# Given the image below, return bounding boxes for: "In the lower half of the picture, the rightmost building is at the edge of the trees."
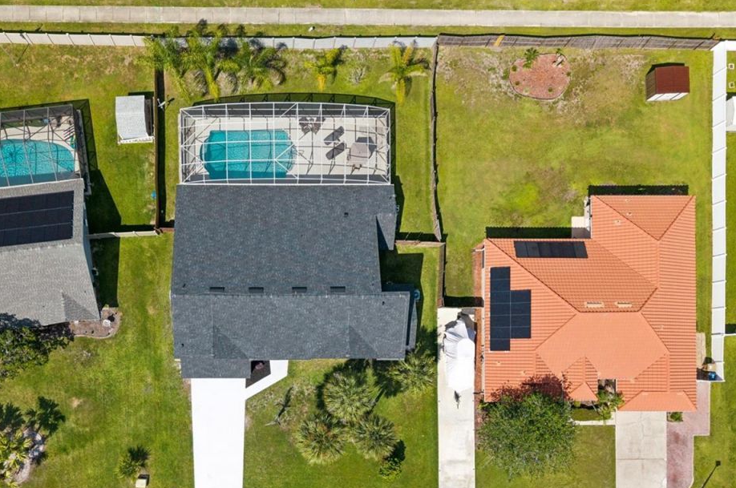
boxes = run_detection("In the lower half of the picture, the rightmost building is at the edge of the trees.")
[473,194,697,412]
